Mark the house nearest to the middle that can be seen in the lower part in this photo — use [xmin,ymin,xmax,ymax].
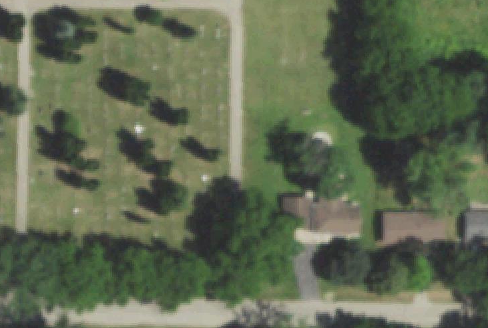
[279,193,364,234]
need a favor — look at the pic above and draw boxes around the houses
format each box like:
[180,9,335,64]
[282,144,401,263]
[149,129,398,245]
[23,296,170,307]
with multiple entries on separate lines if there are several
[382,211,447,241]
[279,193,364,234]
[463,203,488,241]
